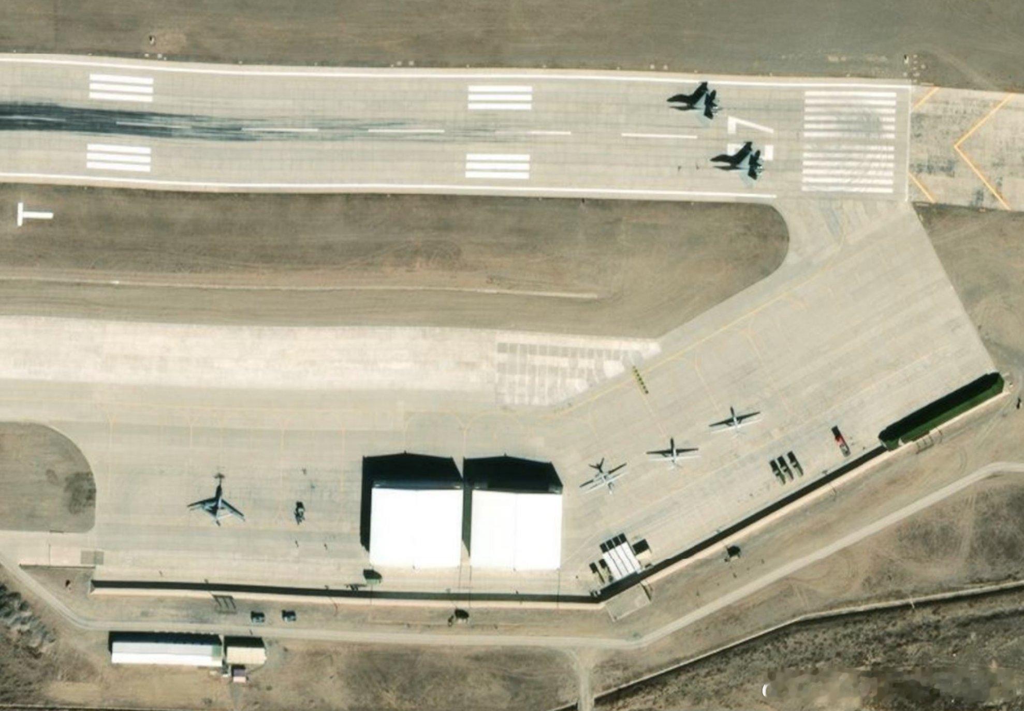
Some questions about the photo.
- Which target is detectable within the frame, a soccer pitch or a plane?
plane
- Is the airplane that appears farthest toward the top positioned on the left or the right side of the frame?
right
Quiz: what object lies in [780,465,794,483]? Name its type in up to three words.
vehicle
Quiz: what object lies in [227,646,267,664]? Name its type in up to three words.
building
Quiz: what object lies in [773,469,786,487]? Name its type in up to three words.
vehicle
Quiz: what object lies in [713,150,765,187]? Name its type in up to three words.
airplane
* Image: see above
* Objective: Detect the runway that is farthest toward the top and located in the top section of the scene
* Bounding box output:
[0,53,1024,211]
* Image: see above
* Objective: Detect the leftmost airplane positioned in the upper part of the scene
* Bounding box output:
[670,90,722,127]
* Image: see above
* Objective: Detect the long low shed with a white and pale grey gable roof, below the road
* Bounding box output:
[112,640,222,666]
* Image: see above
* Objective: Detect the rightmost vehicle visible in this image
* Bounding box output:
[834,436,851,458]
